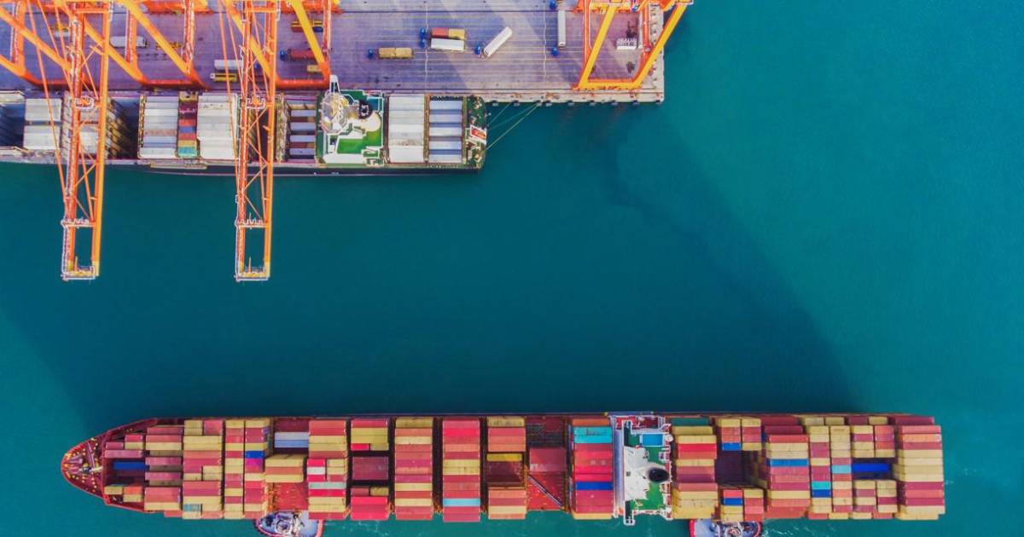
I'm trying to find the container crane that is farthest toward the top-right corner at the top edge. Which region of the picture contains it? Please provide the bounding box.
[569,0,689,90]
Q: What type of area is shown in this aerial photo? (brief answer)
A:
port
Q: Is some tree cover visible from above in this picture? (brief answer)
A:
No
